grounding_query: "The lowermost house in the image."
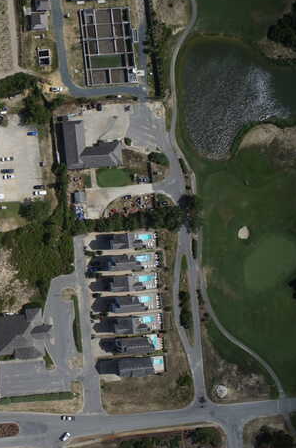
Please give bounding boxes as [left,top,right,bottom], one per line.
[108,354,157,378]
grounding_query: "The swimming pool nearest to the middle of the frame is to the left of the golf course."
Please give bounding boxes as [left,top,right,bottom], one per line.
[131,232,158,248]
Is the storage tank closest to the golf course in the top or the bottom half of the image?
top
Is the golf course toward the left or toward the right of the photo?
right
